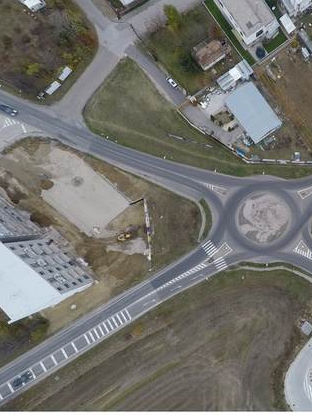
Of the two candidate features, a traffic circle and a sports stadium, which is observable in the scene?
traffic circle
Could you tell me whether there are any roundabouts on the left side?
No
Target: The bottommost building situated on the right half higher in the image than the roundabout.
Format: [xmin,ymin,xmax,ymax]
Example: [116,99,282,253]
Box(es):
[224,81,281,147]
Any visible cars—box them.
[13,371,34,387]
[165,76,179,90]
[0,104,19,116]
